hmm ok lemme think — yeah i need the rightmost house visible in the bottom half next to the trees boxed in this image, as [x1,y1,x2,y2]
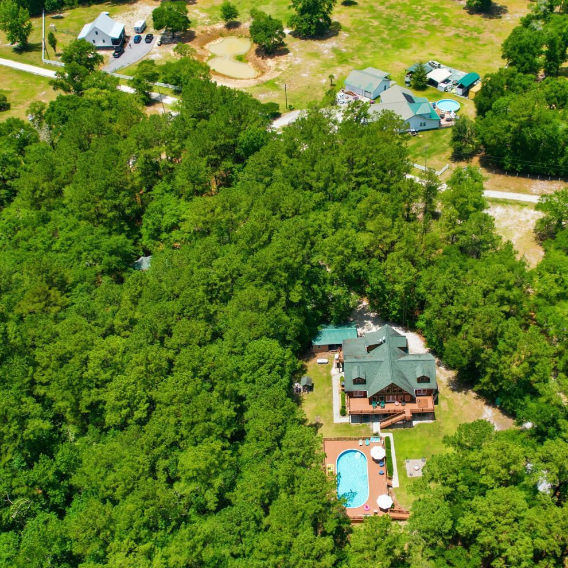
[341,322,437,427]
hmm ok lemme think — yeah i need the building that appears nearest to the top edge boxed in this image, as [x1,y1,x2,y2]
[77,12,127,46]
